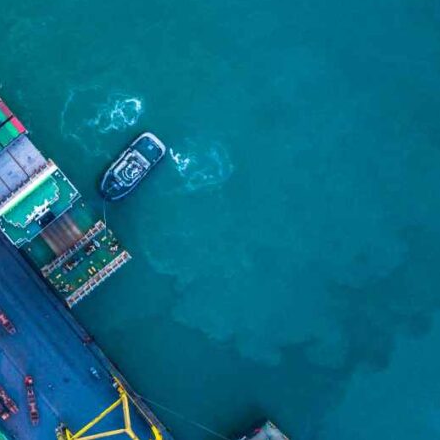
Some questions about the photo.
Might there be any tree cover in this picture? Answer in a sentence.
No, no tree cover is visible.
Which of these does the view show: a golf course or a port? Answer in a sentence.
What you see here is a port.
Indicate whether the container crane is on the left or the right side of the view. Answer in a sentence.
The container crane is on the left side of the image.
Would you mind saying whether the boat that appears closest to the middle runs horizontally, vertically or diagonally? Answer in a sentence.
The boat that appears closest to the middle is oriented diagonally.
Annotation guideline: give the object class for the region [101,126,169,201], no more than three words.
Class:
boat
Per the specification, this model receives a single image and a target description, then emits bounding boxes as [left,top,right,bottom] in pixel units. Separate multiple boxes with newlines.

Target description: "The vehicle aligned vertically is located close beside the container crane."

[24,374,39,424]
